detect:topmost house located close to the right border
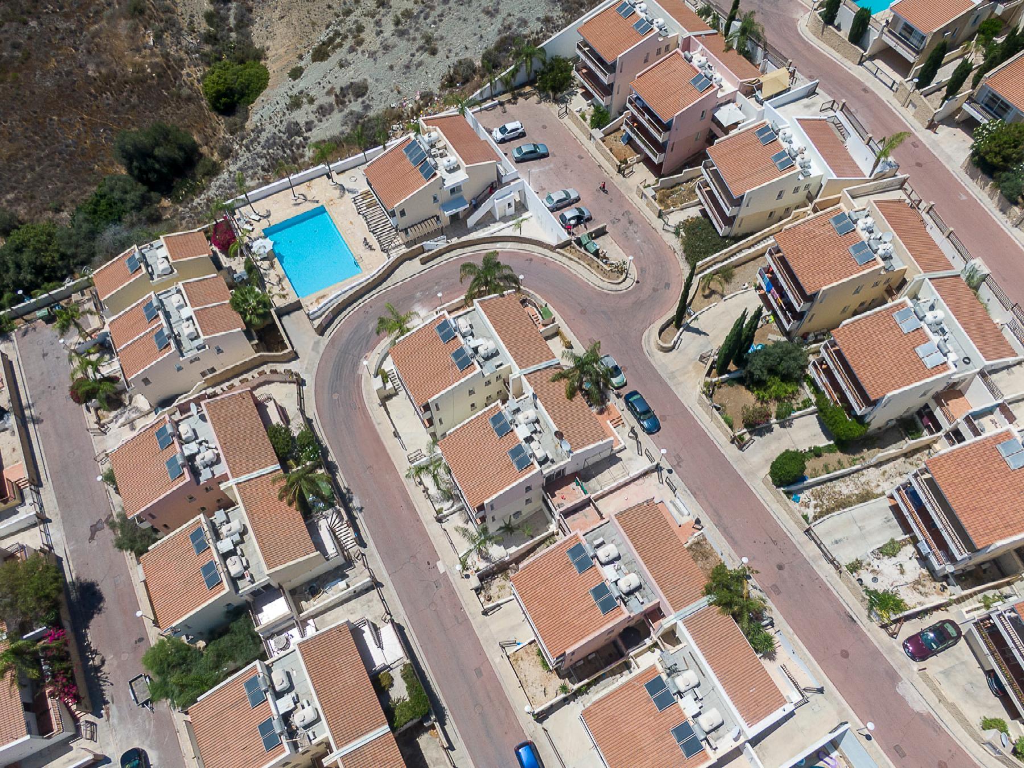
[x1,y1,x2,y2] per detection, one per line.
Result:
[875,0,1019,78]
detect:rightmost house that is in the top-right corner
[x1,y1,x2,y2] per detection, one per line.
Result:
[964,60,1024,149]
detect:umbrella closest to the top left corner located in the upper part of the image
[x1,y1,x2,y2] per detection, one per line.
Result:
[243,231,269,257]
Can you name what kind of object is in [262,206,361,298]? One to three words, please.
swimming pool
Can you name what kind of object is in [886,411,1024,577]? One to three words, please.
house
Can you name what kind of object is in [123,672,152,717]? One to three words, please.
trailer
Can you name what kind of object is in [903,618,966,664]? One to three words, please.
car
